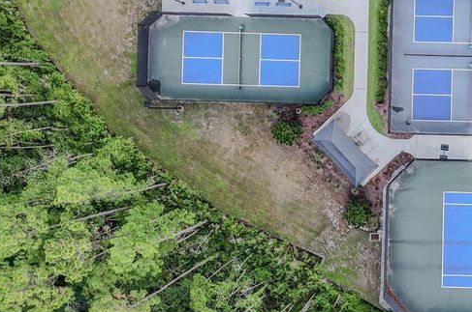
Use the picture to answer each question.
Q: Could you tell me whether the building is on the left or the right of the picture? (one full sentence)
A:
The building appears in the right half of the scene.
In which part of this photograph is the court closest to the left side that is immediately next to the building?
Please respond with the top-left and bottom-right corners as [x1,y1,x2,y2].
[149,15,328,103]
